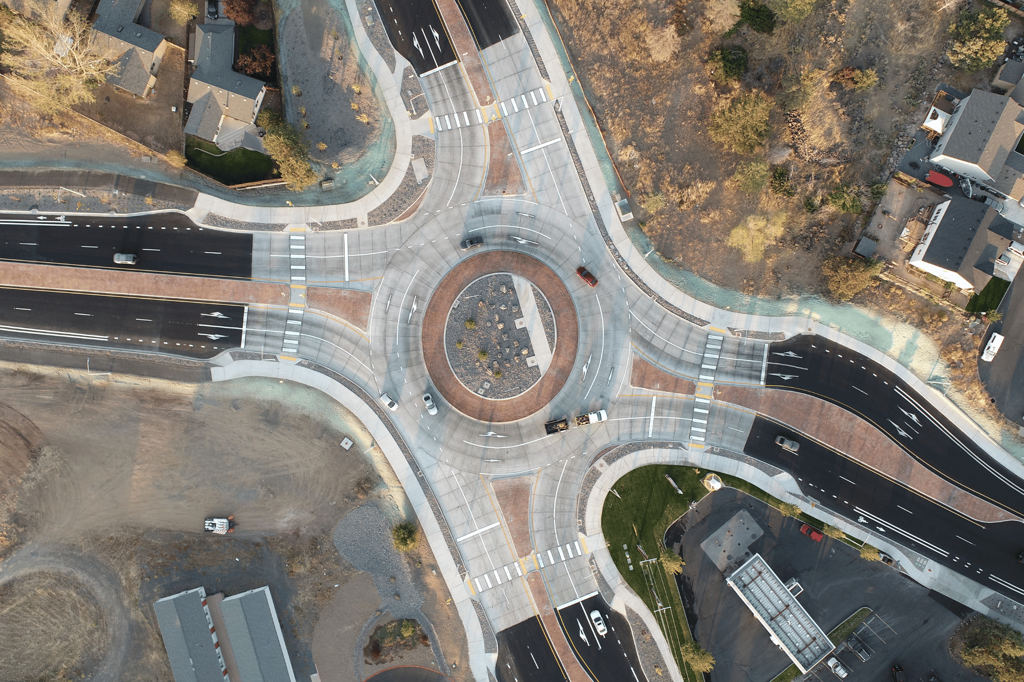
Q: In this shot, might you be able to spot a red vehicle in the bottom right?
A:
Yes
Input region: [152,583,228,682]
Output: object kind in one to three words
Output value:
building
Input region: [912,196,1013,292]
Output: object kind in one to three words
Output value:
house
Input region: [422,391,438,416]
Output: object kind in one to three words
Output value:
car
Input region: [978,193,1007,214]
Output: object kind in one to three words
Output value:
truck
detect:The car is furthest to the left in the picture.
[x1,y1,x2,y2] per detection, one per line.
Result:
[113,252,139,264]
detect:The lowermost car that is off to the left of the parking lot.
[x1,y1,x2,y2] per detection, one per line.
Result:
[590,609,606,637]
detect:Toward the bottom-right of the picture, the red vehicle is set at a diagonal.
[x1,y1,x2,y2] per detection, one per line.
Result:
[799,523,825,543]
